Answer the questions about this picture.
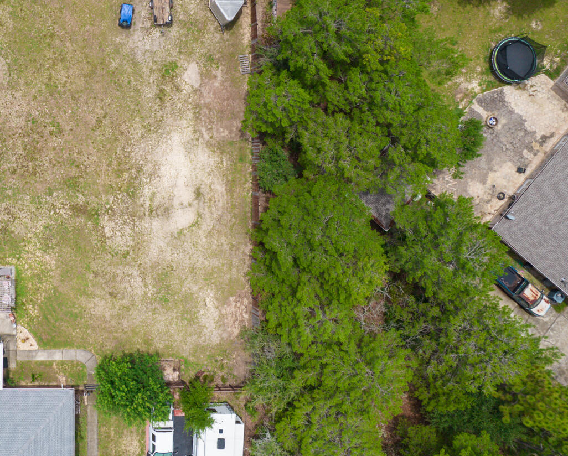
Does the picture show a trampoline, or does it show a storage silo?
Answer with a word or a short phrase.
trampoline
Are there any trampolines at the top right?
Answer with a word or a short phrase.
Yes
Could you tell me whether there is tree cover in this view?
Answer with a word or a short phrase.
Yes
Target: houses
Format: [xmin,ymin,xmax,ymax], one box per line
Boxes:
[0,382,75,456]
[481,123,568,303]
